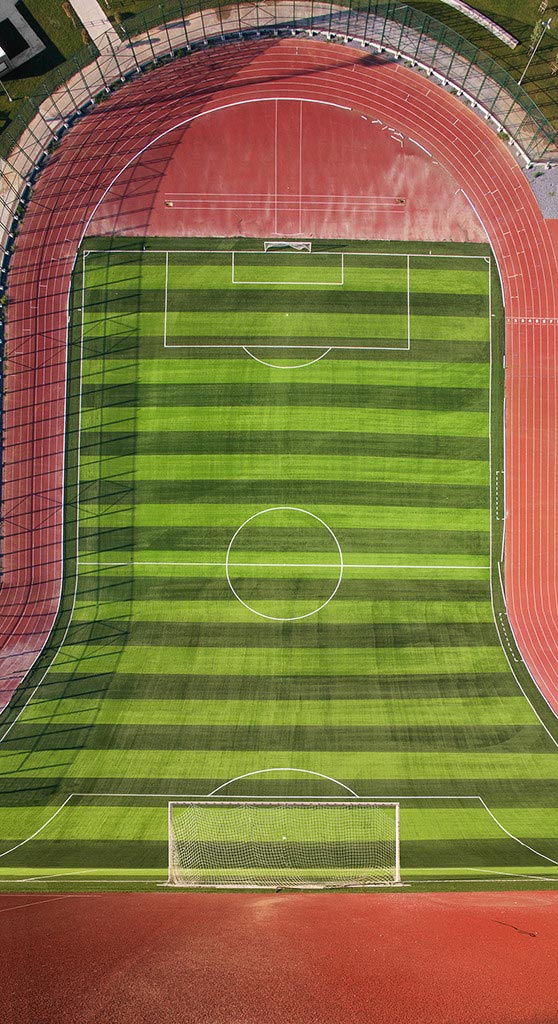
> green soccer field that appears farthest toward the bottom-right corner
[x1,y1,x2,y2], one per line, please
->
[0,236,558,893]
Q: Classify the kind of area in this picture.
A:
sports ground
